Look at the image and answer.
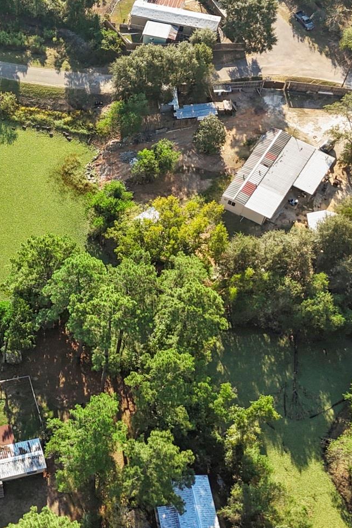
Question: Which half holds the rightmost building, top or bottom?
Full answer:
It is in the top half that the rightmost building appears.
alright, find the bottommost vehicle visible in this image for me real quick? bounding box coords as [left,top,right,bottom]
[317,135,337,151]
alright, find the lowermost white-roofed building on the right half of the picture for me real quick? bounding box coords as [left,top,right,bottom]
[224,126,331,225]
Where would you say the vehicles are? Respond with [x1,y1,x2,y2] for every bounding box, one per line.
[293,12,315,29]
[317,135,337,151]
